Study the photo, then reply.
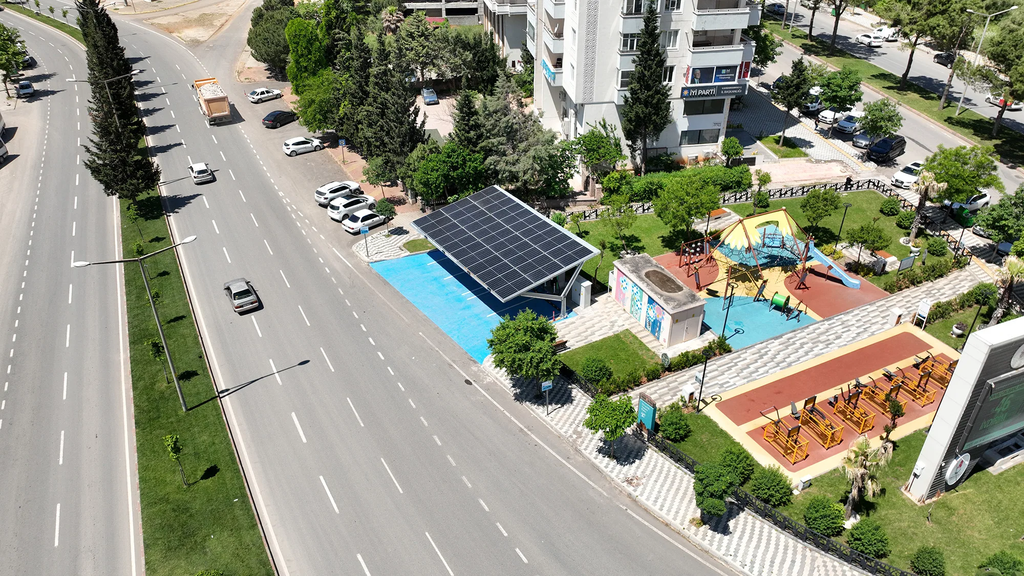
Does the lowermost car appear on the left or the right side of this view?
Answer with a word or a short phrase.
left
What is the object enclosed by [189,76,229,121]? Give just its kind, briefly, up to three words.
truck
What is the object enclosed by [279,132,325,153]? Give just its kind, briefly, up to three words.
car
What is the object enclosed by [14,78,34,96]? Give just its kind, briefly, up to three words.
car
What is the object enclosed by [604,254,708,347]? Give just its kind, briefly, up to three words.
shed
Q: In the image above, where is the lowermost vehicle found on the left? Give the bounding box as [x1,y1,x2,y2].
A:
[223,276,263,315]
